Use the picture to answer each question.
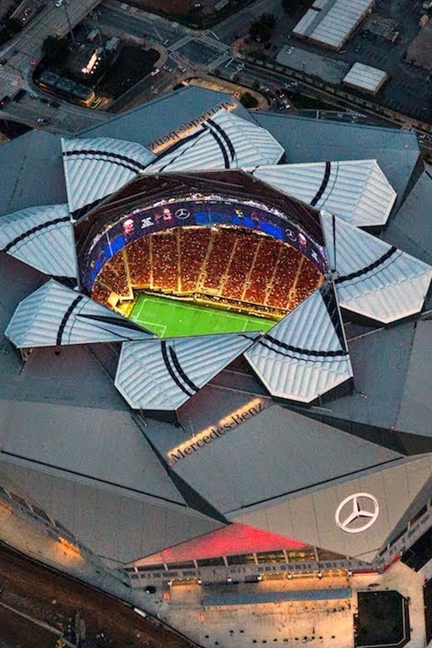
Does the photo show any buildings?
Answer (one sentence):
Yes, the frame does contain a building.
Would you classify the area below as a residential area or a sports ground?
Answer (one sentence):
It's a sports ground.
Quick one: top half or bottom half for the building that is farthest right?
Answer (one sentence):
You can find the building that is farthest right in the top half.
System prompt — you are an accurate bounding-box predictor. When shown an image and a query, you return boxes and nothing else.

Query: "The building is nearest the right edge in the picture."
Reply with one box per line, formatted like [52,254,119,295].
[343,62,389,98]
